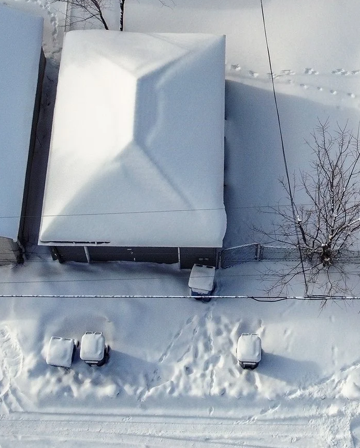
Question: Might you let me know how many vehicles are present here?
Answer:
zero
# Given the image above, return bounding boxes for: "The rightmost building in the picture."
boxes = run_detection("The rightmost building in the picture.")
[39,32,227,268]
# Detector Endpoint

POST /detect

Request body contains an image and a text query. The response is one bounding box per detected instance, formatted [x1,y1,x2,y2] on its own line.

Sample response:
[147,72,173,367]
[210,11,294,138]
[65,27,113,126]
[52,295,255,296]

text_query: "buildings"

[0,8,51,265]
[39,32,227,268]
